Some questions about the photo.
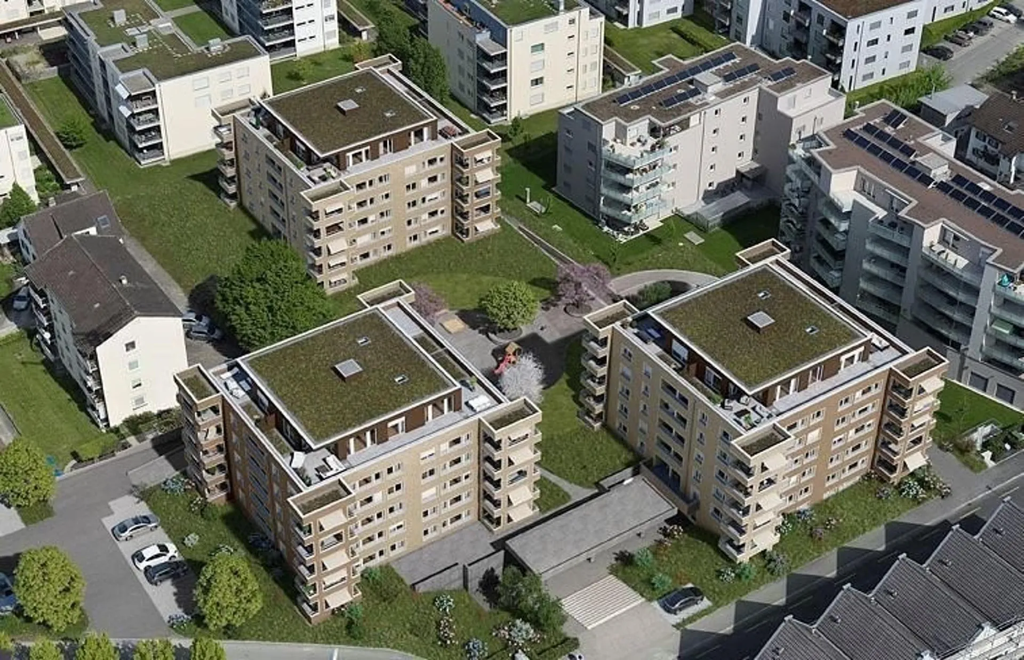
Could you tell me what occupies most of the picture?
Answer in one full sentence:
The largest share of the image is taken up by buildings.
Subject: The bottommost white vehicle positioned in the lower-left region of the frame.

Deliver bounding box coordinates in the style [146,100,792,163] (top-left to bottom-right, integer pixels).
[131,540,178,564]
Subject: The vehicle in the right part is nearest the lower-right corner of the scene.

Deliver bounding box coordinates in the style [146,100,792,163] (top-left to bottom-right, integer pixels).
[659,583,707,609]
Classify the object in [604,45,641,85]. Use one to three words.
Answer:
shed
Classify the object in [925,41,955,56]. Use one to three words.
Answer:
car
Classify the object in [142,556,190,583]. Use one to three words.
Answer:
car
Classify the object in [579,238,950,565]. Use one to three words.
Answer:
building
